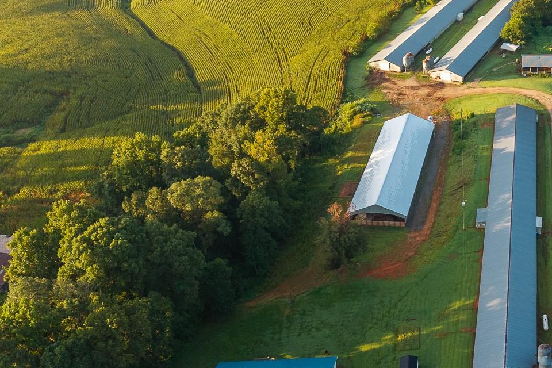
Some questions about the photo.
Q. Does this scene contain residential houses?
Yes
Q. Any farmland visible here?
Yes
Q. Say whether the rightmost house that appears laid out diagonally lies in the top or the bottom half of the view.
top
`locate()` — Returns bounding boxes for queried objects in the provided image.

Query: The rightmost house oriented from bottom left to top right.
[428,0,529,85]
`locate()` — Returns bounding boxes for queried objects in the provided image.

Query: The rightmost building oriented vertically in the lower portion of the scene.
[471,103,542,368]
